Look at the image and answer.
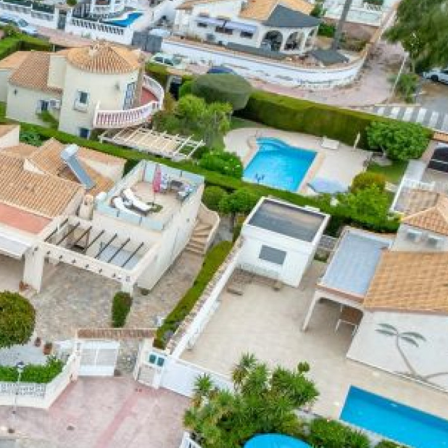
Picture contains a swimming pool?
Yes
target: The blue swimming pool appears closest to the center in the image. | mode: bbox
[234,133,325,194]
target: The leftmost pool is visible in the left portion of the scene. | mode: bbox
[103,12,139,29]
